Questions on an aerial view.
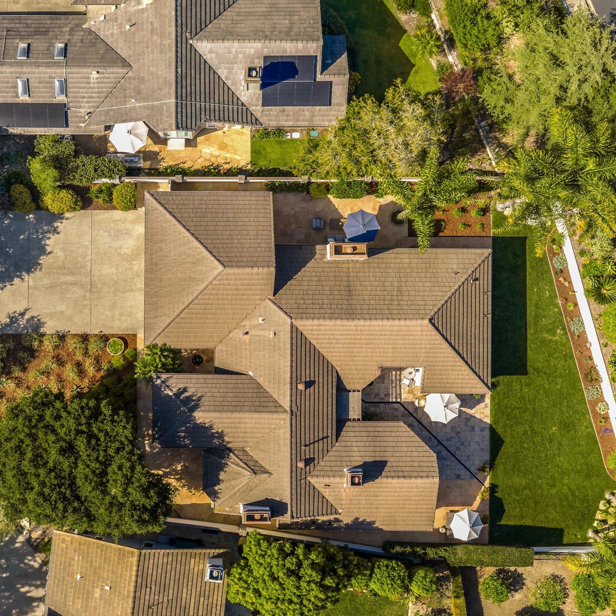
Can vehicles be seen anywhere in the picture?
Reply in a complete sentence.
No, the frame has no vehicle in it.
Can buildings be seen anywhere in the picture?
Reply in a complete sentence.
Yes, I can see a building in this picture.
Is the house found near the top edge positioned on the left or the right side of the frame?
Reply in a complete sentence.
The house found near the top edge sits on the left side.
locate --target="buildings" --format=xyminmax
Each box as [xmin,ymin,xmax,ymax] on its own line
[143,190,493,533]
[0,0,351,148]
[38,526,232,616]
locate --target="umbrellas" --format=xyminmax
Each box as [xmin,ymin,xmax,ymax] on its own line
[450,507,481,540]
[342,209,378,243]
[110,125,149,159]
[421,394,461,427]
